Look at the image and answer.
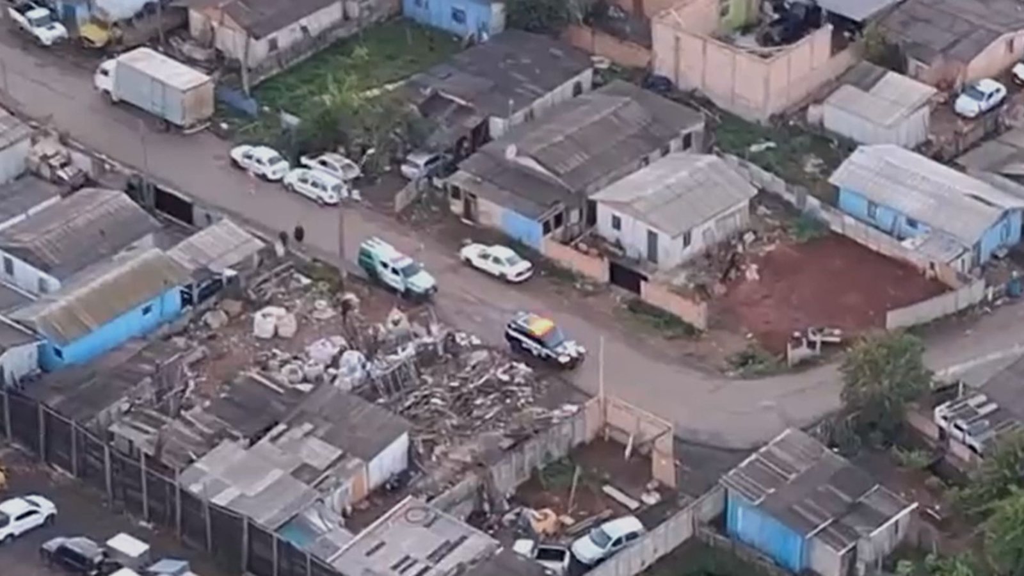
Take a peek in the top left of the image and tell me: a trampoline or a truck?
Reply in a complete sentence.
Visible in the top left of the image is a truck.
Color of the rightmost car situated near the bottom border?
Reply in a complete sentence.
The rightmost car situated near the bottom border looks white in the image.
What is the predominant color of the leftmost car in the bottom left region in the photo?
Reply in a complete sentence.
The leftmost car in the bottom left region looks white in the image.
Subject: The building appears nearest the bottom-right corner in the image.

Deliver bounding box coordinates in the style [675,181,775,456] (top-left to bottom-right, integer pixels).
[723,435,920,576]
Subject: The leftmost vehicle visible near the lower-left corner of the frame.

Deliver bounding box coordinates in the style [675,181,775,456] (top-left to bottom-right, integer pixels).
[0,491,63,550]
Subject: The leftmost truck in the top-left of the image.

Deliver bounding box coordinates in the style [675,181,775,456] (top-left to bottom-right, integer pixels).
[3,7,69,49]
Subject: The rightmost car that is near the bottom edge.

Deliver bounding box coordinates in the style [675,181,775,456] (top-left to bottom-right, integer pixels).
[569,510,649,565]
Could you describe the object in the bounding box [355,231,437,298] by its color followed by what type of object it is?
white truck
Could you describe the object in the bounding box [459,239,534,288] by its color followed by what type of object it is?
white car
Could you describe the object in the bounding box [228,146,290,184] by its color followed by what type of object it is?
white car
